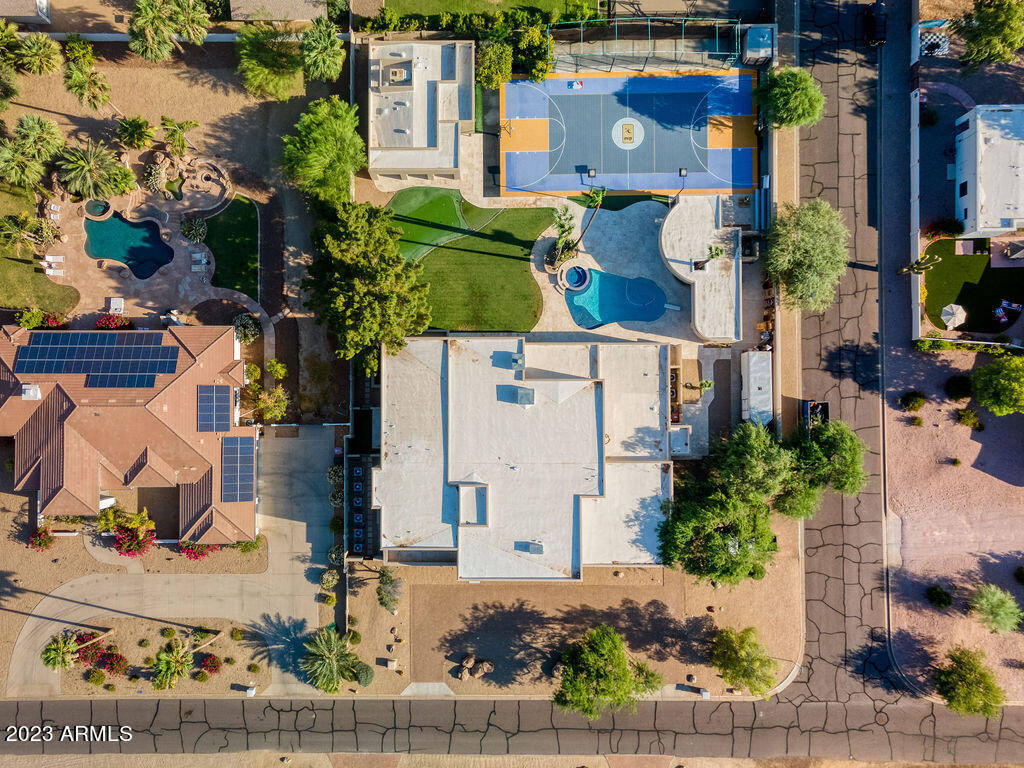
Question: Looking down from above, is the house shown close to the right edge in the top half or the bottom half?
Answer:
top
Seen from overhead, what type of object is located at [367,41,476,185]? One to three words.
house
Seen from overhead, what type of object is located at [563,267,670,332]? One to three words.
swimming pool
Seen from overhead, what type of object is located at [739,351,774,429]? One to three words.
trailer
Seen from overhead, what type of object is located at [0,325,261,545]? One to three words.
house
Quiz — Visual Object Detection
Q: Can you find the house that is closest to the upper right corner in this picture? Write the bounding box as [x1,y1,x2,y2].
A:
[954,105,1024,236]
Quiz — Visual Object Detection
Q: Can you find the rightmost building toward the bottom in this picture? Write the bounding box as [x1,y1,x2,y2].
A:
[371,337,691,585]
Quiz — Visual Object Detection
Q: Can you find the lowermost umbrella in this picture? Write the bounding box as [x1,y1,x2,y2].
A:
[939,304,965,329]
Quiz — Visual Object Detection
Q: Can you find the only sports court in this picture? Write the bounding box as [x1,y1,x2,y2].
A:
[500,71,757,197]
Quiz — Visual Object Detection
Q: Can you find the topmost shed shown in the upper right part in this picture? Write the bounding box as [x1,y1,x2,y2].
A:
[743,29,773,65]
